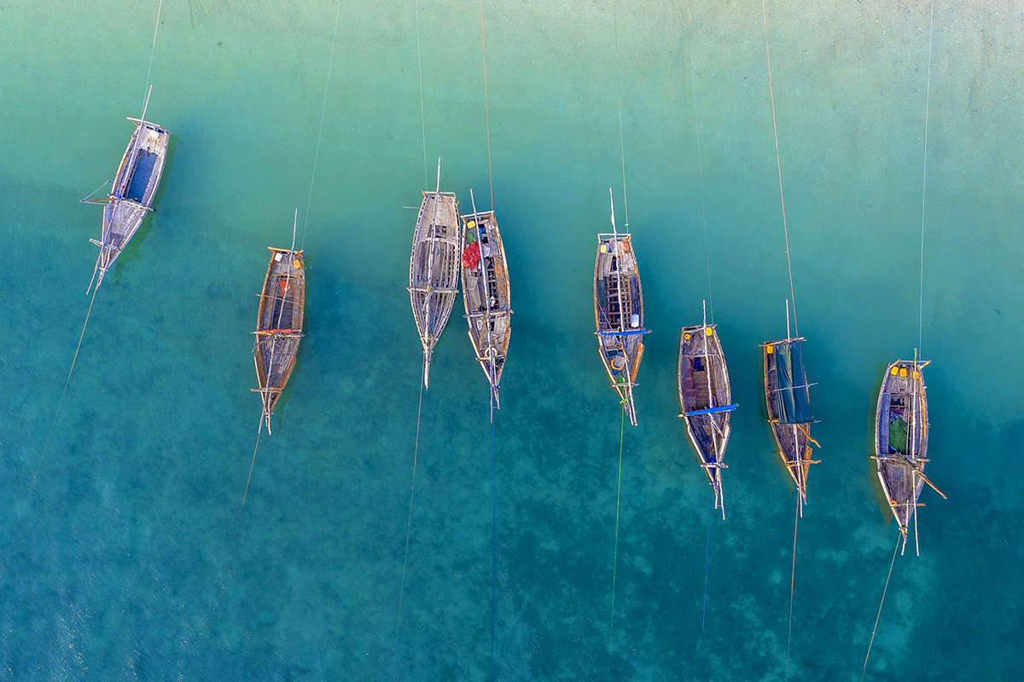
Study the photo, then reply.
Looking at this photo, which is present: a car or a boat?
boat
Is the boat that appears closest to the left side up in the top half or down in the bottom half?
top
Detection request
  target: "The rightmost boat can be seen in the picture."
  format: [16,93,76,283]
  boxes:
[869,349,932,556]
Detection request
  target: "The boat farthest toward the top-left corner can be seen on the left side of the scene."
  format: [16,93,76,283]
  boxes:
[81,85,177,294]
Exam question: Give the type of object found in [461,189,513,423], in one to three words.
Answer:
boat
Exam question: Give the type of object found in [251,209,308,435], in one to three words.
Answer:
boat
